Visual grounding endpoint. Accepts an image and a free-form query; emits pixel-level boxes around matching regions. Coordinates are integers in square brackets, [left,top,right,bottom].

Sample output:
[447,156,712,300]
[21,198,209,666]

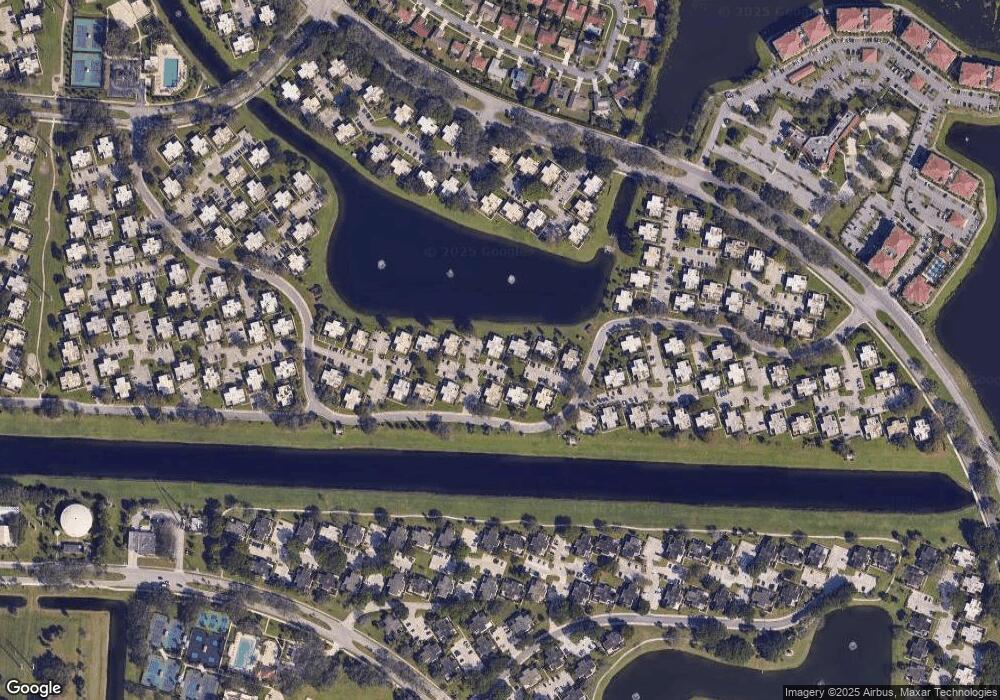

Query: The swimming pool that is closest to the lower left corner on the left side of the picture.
[229,631,262,672]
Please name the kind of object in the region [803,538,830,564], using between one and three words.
house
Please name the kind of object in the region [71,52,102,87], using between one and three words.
tennis court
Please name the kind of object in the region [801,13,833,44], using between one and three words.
building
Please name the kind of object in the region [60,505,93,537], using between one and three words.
storage tank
